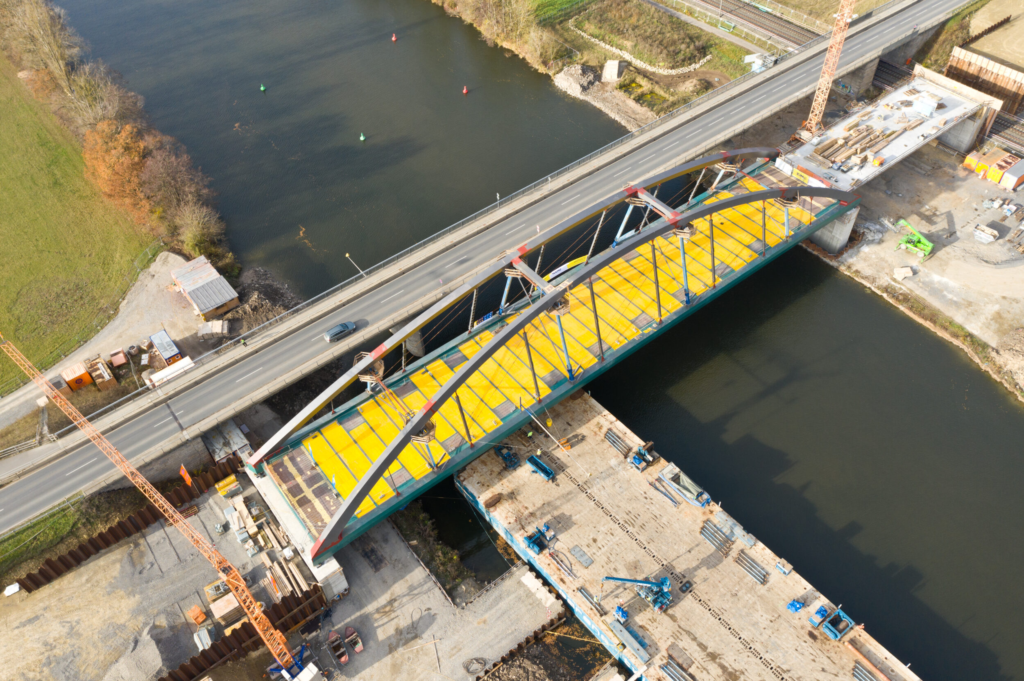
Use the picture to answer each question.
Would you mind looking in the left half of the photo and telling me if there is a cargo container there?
Yes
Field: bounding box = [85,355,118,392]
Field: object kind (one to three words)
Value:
shipping container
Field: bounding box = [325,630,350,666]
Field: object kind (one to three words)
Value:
boat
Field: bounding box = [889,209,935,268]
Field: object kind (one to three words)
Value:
work vehicle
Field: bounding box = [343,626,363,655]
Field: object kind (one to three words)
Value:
boat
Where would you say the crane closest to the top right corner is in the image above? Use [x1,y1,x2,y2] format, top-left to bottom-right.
[788,0,855,139]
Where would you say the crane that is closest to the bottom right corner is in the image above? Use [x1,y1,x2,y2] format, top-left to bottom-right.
[599,571,676,615]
